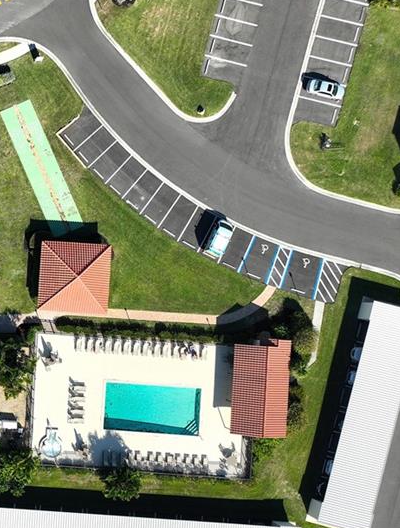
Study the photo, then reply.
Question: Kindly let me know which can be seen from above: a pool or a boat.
pool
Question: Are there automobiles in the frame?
Yes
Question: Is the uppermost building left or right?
left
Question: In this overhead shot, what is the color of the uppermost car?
white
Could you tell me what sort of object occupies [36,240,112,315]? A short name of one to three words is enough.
building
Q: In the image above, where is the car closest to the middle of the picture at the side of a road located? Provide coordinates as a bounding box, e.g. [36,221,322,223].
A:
[205,219,235,258]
